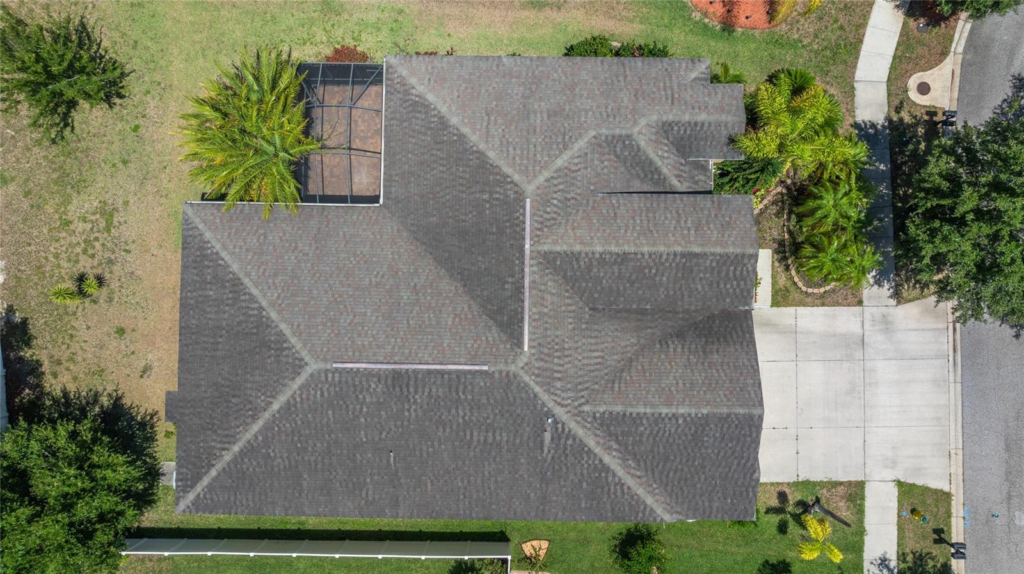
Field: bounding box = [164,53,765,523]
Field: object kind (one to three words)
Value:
house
